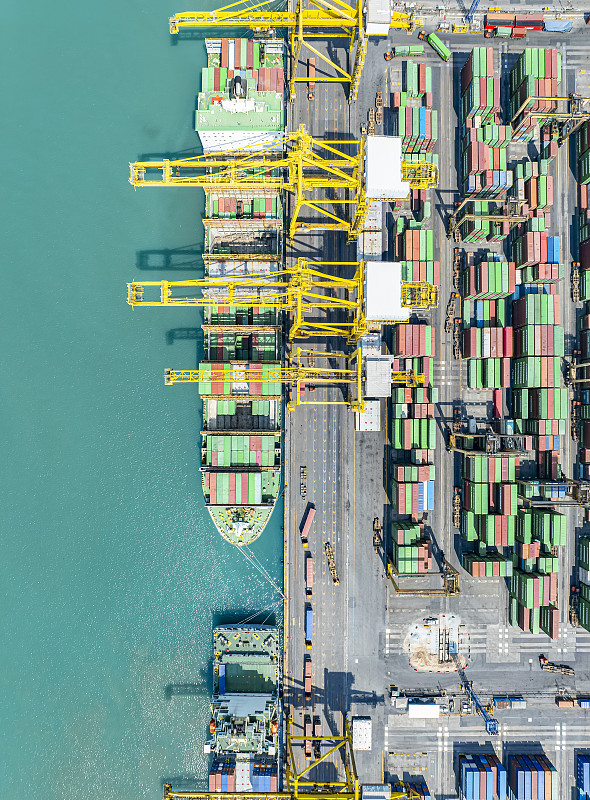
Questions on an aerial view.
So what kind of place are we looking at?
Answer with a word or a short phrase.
port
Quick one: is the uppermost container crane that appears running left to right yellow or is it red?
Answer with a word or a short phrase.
yellow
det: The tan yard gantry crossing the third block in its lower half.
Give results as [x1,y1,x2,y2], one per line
[511,475,590,506]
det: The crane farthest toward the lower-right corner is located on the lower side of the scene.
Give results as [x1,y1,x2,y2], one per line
[452,649,502,746]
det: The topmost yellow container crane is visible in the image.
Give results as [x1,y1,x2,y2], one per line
[167,0,424,110]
